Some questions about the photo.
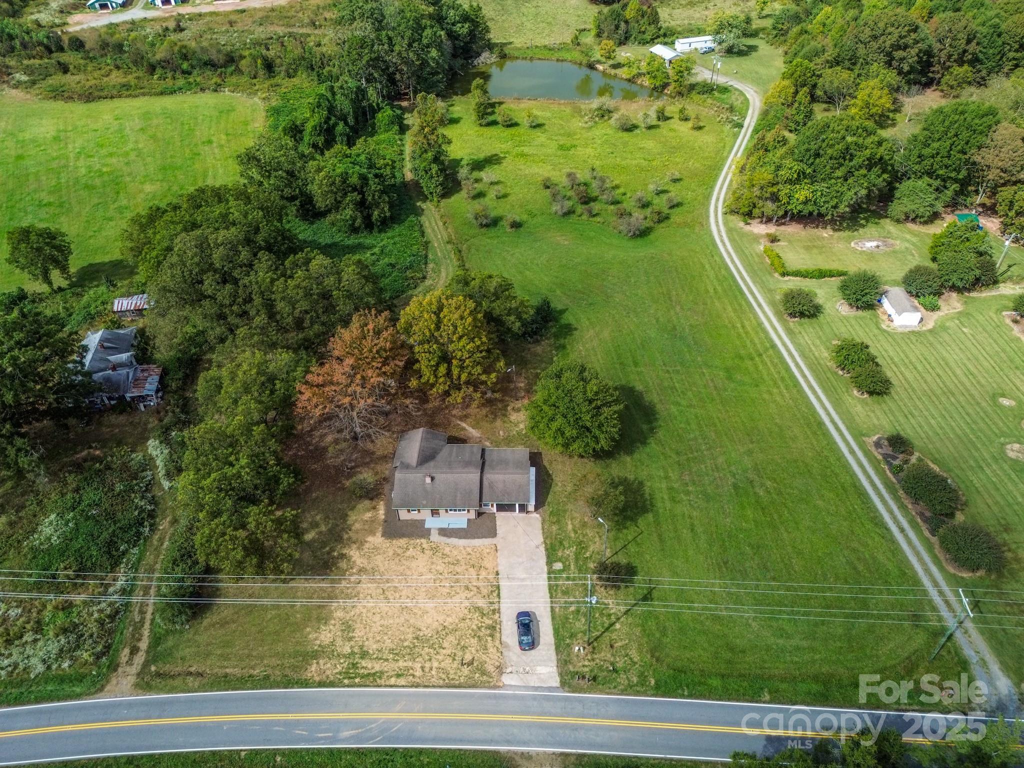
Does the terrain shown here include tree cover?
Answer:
Yes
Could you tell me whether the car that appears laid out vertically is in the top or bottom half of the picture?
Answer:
bottom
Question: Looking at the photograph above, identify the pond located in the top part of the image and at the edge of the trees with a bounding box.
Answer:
[452,60,664,101]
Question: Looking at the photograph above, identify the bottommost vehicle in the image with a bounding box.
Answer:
[514,610,535,651]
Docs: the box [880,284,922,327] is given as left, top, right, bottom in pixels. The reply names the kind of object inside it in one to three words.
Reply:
shed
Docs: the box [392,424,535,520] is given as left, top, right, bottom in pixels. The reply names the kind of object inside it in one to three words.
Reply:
house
